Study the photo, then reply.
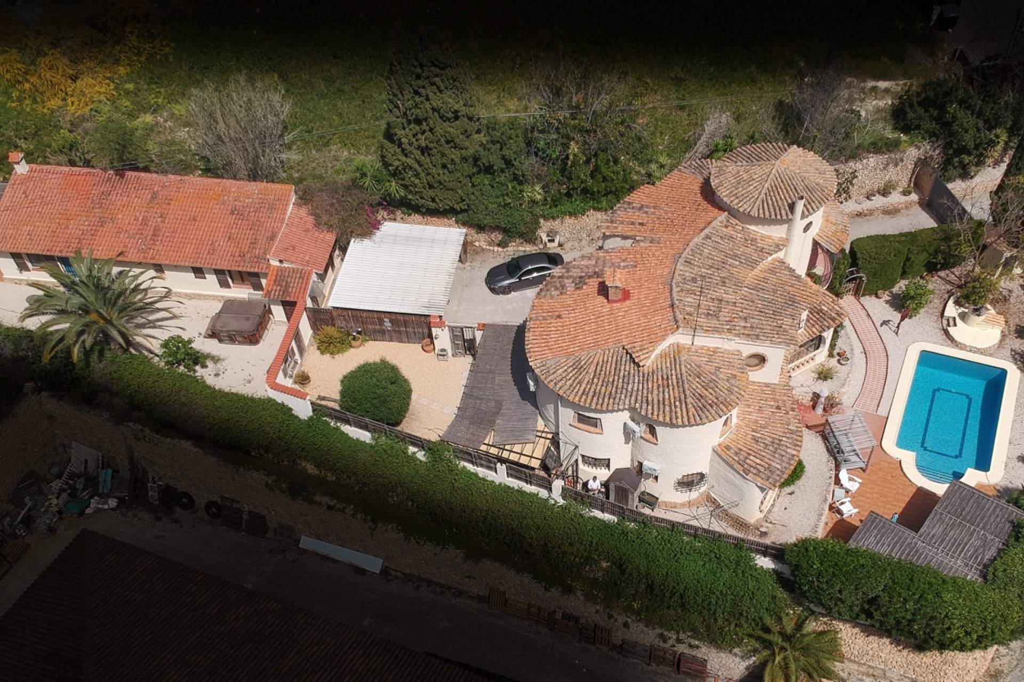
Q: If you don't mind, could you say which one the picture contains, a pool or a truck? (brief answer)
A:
pool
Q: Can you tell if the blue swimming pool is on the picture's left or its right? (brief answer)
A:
right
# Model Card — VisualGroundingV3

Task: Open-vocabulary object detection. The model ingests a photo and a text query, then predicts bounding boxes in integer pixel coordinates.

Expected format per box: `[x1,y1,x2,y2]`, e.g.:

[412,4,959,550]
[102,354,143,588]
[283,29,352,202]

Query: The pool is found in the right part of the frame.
[883,342,1019,494]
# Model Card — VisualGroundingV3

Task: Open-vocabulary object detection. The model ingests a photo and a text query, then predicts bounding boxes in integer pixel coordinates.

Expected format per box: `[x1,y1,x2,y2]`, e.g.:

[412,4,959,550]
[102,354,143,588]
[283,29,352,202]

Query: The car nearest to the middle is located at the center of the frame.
[479,248,567,299]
